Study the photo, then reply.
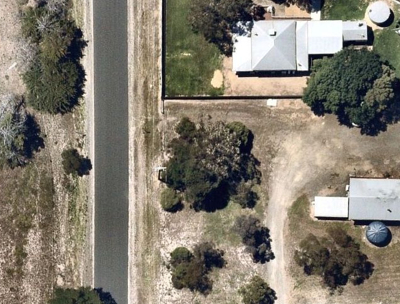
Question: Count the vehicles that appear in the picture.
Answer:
0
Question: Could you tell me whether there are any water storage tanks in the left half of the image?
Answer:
No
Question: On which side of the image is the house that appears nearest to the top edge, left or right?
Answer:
right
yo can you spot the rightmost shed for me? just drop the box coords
[348,177,400,222]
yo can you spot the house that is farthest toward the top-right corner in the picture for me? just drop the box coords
[232,20,367,73]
